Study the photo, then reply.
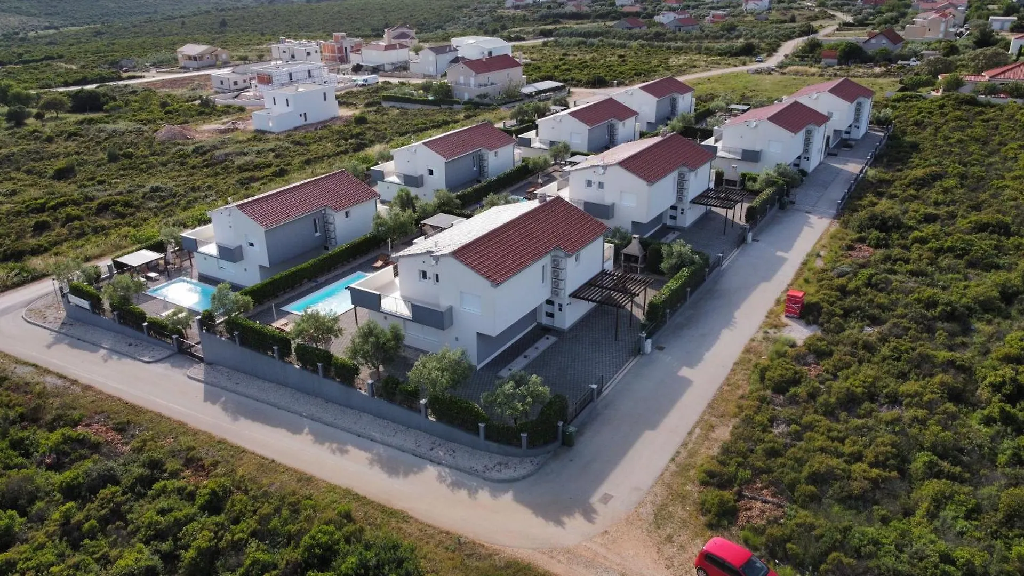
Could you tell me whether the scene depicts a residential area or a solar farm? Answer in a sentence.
What you see here is a residential area.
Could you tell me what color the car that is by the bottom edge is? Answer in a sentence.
From above, the car that is by the bottom edge appears red.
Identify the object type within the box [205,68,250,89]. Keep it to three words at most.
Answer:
house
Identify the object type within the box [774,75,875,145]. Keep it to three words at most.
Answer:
house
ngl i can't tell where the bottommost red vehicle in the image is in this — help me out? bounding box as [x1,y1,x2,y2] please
[692,539,769,576]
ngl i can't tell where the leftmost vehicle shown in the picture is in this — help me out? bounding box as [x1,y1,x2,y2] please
[351,71,379,85]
